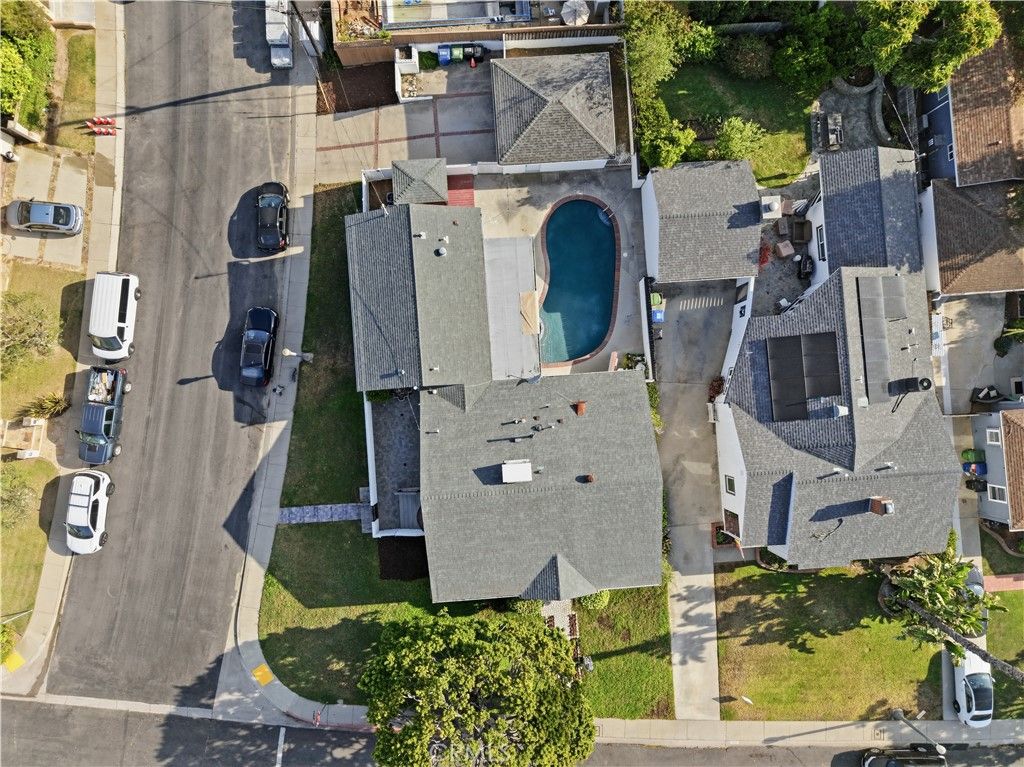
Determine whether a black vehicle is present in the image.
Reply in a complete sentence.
Yes, a black vehicle appears in the view.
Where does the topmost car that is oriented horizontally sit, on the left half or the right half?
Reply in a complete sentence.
The topmost car that is oriented horizontally appears in the left half of the scene.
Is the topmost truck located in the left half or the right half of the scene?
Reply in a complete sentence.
The topmost truck is on the left side of the image.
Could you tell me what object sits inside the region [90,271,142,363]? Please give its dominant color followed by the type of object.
white van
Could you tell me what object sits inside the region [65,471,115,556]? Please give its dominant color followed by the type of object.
white car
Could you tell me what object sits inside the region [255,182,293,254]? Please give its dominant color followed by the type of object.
black car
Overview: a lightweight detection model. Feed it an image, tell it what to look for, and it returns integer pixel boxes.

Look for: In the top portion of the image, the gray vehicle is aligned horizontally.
[7,196,85,232]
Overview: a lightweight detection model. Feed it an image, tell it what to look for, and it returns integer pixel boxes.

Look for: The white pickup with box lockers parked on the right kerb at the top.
[258,0,296,70]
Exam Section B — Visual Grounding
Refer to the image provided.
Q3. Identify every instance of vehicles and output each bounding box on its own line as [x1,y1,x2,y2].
[241,305,281,387]
[65,471,115,556]
[860,747,946,767]
[951,643,993,727]
[255,182,293,254]
[258,0,296,70]
[82,367,133,467]
[90,271,142,363]
[7,196,85,232]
